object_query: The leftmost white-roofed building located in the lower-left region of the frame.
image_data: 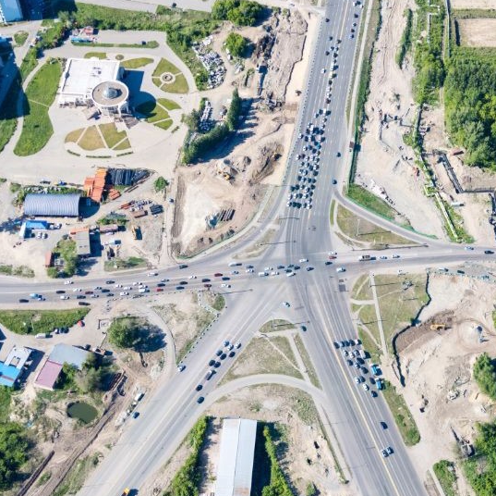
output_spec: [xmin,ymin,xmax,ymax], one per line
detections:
[2,346,34,376]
